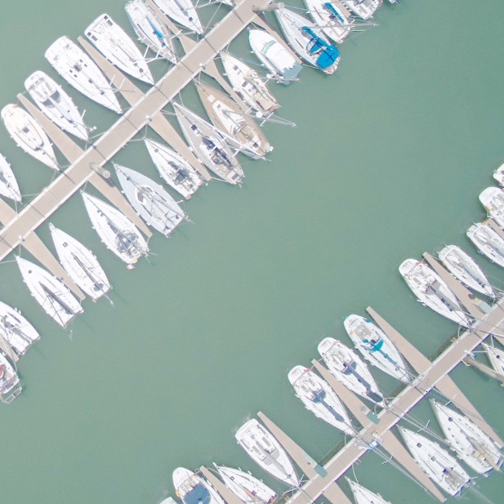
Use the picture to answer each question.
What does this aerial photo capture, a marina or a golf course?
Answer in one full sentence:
The picture captures a marina.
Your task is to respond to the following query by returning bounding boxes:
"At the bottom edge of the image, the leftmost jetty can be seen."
[200,464,244,504]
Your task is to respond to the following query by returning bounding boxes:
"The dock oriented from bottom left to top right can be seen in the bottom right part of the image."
[282,297,504,504]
